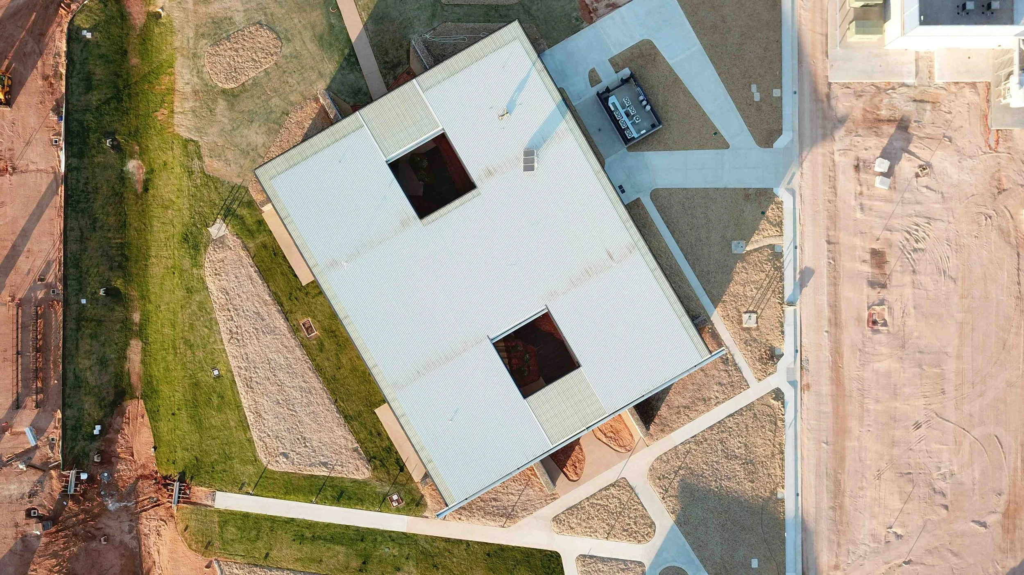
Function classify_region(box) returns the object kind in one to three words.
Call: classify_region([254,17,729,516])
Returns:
building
